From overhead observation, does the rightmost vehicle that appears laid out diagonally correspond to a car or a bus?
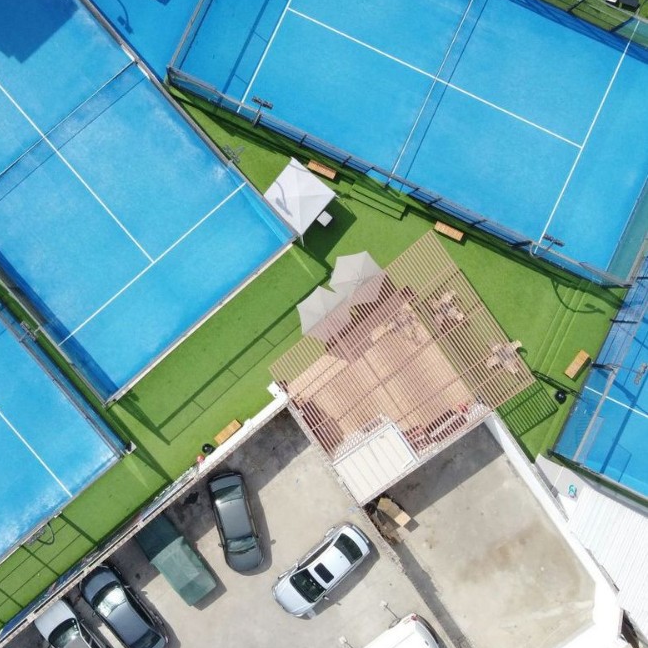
car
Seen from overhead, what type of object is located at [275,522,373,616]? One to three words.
car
